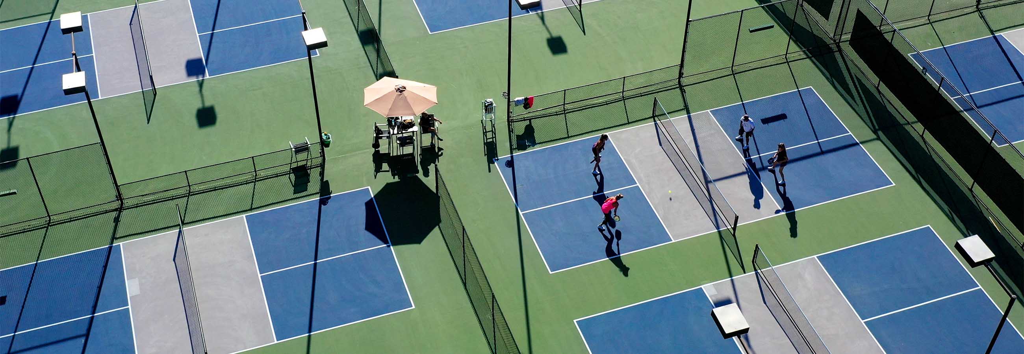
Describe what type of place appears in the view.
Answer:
sports ground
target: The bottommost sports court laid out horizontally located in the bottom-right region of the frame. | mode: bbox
[575,226,1024,354]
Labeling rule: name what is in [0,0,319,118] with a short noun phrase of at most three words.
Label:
sports court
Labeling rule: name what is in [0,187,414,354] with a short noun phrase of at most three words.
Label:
sports court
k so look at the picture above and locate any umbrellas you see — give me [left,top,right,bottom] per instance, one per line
[364,77,438,121]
